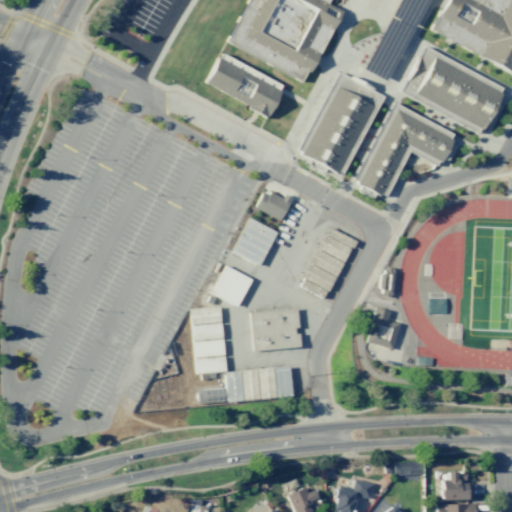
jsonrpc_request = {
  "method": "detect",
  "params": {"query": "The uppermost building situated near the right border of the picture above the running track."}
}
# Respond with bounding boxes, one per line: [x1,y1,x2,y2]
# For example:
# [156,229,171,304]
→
[429,0,512,75]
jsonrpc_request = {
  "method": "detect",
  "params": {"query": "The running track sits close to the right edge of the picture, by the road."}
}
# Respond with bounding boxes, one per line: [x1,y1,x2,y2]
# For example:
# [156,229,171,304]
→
[395,194,512,375]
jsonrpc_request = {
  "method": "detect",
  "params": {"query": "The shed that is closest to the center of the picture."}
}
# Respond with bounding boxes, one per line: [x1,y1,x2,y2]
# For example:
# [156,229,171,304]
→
[230,218,278,266]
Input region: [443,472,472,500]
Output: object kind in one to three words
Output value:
house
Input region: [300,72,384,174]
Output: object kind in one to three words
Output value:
building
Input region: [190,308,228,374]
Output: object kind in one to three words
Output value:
barn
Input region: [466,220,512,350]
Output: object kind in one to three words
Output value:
sports field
